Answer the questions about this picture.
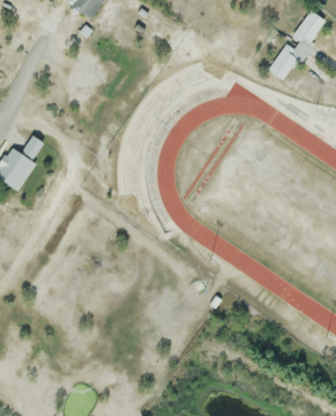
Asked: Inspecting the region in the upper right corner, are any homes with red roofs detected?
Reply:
No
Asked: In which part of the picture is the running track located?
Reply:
right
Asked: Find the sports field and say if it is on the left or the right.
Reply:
right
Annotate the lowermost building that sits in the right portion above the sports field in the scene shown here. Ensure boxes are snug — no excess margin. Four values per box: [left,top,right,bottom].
[270,44,298,78]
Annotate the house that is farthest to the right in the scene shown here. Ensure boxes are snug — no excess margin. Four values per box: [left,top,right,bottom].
[294,12,326,63]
